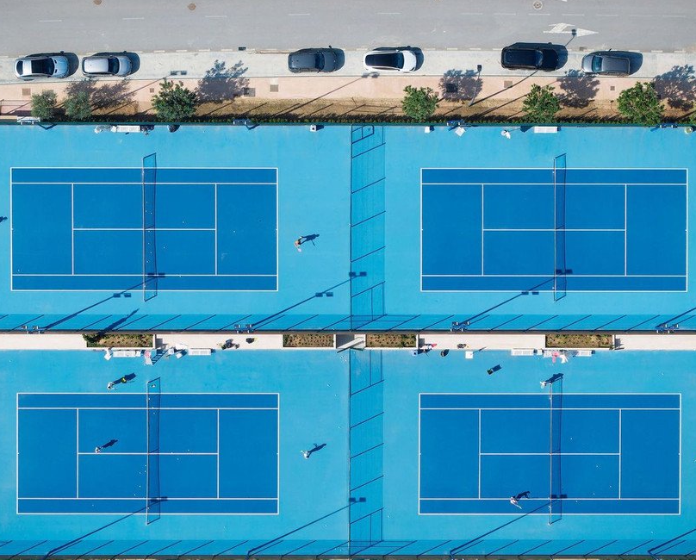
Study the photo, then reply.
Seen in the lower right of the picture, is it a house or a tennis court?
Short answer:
tennis court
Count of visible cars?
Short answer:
6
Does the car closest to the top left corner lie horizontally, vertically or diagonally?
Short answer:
horizontally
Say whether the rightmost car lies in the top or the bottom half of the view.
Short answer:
top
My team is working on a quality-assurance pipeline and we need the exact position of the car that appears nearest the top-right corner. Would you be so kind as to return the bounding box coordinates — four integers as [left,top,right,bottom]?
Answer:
[582,50,632,74]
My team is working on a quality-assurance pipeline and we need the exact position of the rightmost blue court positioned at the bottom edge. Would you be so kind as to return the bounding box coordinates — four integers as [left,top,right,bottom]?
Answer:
[349,350,696,555]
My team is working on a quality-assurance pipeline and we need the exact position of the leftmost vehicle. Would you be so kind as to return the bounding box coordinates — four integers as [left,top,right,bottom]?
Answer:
[15,54,68,78]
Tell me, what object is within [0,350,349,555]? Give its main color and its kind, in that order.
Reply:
blue tennis court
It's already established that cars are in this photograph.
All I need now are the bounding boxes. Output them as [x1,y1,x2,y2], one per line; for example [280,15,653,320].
[15,54,68,78]
[364,47,416,72]
[502,43,558,70]
[582,50,632,74]
[83,52,128,76]
[288,46,336,72]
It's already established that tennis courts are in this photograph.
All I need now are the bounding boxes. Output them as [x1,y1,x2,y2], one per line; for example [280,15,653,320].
[349,350,696,555]
[0,350,349,555]
[352,124,696,331]
[0,124,351,331]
